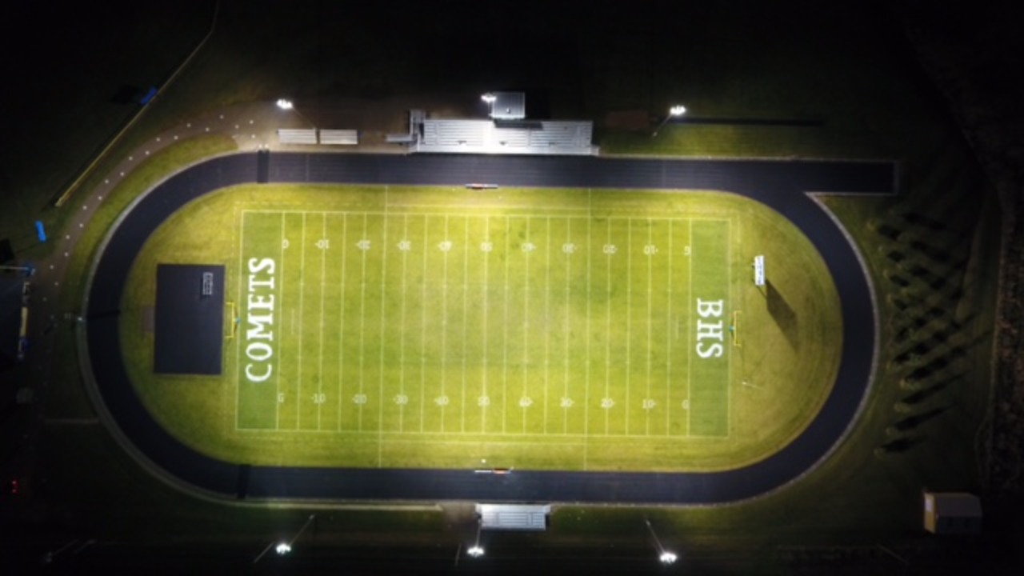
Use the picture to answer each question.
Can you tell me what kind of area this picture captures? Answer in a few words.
sports ground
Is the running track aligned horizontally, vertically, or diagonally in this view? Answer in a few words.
horizontally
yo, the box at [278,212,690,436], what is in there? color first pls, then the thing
yellow sports field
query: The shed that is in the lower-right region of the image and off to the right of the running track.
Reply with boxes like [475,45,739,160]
[927,490,981,533]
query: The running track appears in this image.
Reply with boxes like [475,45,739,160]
[87,151,895,504]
